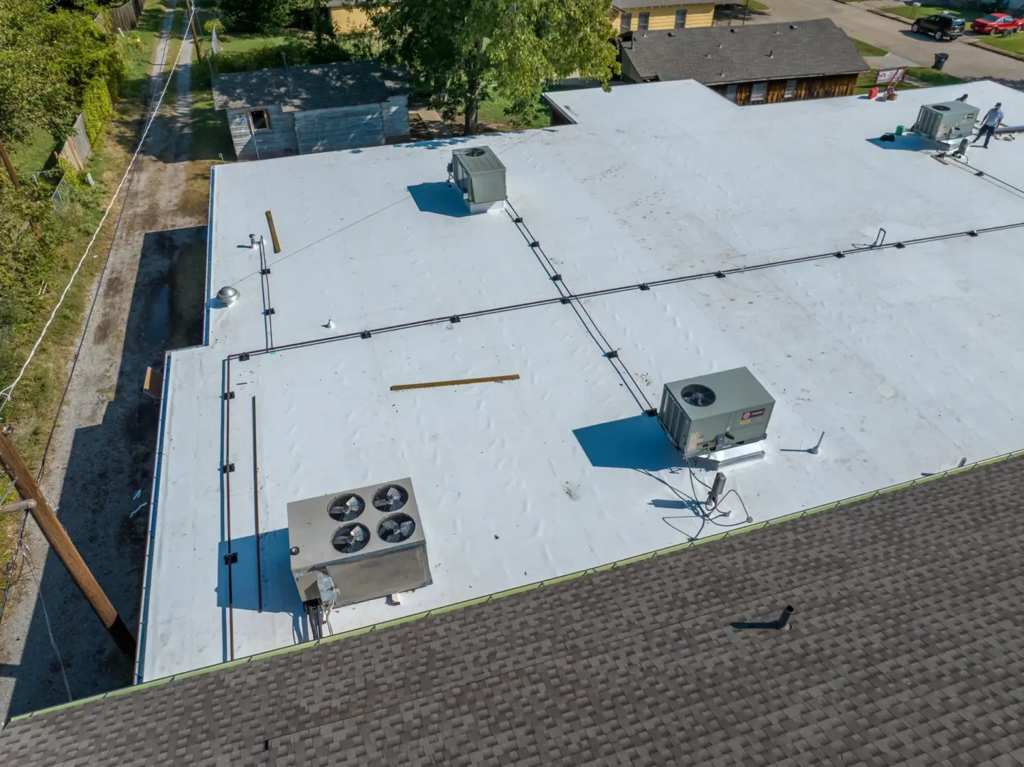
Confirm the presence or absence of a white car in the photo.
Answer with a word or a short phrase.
No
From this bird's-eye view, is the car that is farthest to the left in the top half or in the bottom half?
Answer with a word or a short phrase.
top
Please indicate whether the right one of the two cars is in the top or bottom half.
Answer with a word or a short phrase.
top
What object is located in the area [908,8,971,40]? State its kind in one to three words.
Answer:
car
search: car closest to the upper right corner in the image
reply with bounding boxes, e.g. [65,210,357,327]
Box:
[972,11,1024,35]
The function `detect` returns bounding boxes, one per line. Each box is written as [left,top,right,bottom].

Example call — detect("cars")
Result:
[908,8,971,40]
[972,11,1024,35]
